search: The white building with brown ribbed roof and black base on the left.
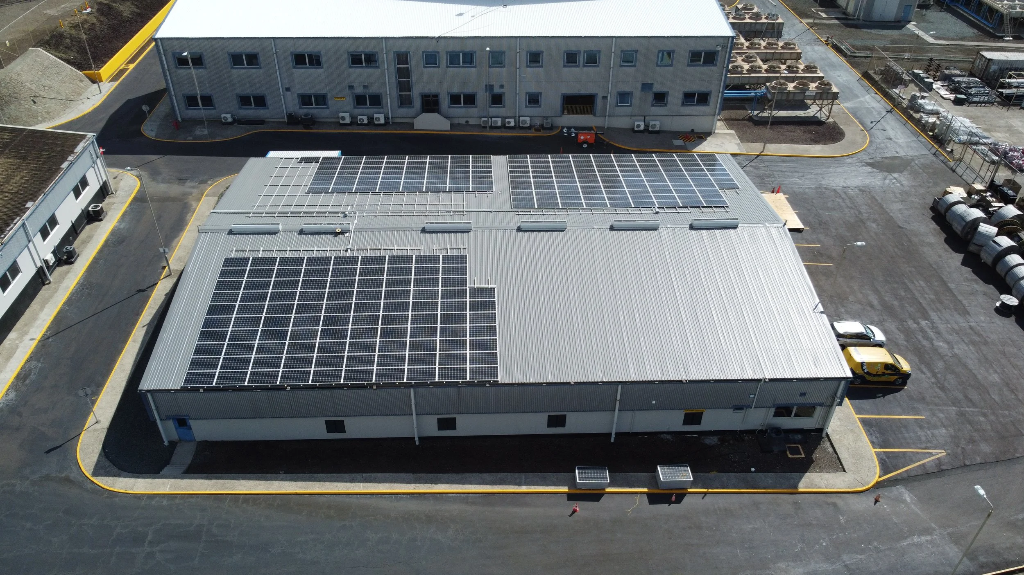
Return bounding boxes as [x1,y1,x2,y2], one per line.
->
[0,122,114,346]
